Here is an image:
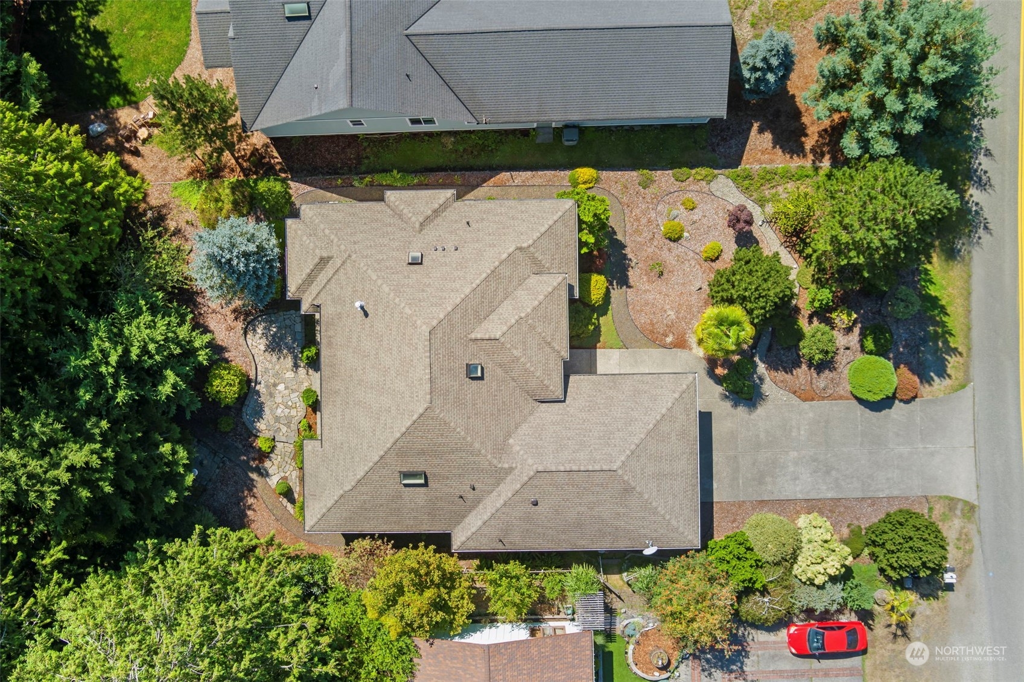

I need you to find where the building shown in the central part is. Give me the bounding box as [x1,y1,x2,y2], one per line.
[284,188,702,554]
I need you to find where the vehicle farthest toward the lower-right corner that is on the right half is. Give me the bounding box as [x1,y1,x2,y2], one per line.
[785,619,869,660]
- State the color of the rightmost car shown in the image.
red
